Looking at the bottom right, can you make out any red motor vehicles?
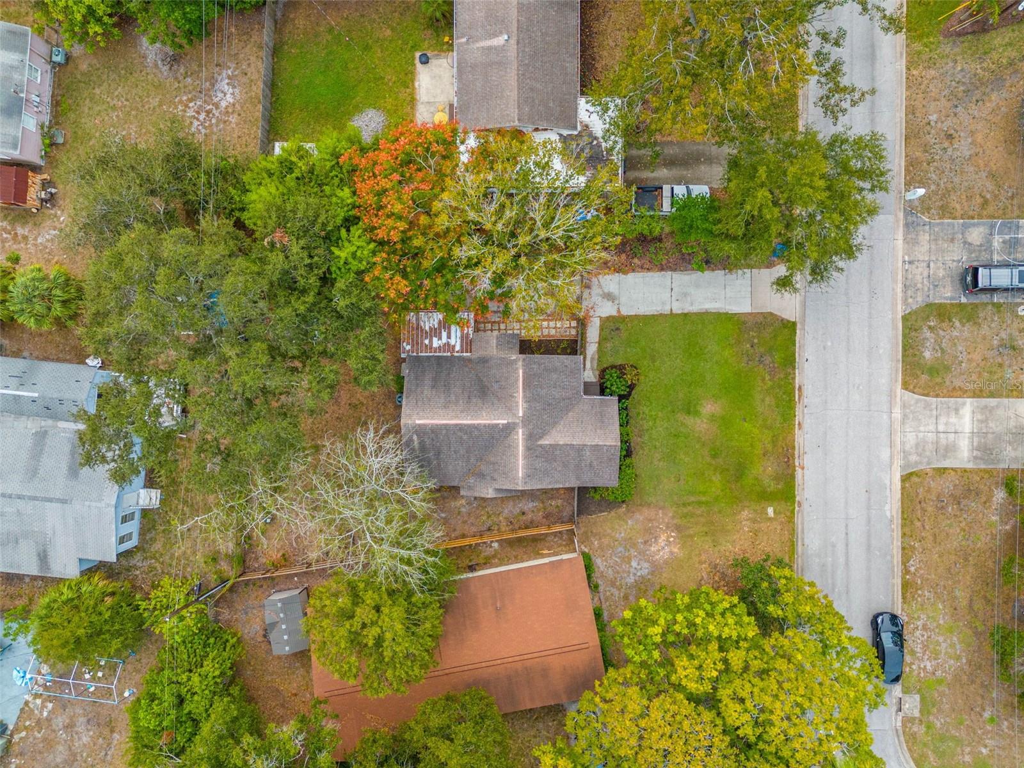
No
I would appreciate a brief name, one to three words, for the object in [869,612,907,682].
car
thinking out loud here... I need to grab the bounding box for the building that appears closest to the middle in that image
[401,333,620,497]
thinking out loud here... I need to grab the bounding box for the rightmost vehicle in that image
[963,261,1024,296]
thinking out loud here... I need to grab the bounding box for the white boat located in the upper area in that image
[903,187,925,200]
